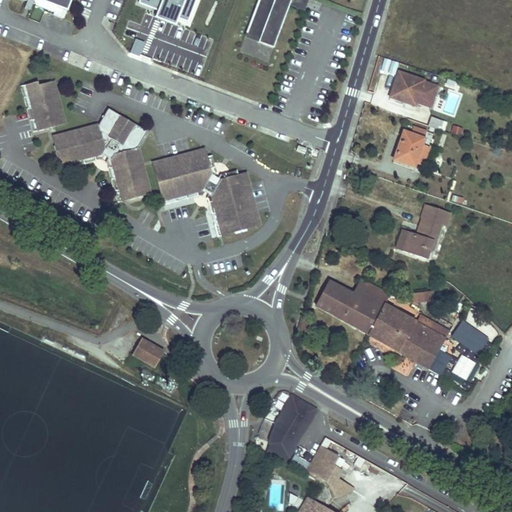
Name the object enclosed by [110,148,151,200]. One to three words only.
building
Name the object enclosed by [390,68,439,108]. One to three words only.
house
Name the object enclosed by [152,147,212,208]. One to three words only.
building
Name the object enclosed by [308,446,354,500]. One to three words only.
house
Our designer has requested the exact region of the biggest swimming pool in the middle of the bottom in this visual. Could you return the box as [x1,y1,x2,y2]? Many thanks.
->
[268,480,286,511]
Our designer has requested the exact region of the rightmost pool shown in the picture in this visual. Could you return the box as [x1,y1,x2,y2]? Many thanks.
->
[433,88,463,118]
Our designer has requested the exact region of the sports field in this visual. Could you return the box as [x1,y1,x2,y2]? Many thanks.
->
[0,318,190,512]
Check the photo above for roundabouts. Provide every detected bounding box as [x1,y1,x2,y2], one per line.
[192,296,290,394]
